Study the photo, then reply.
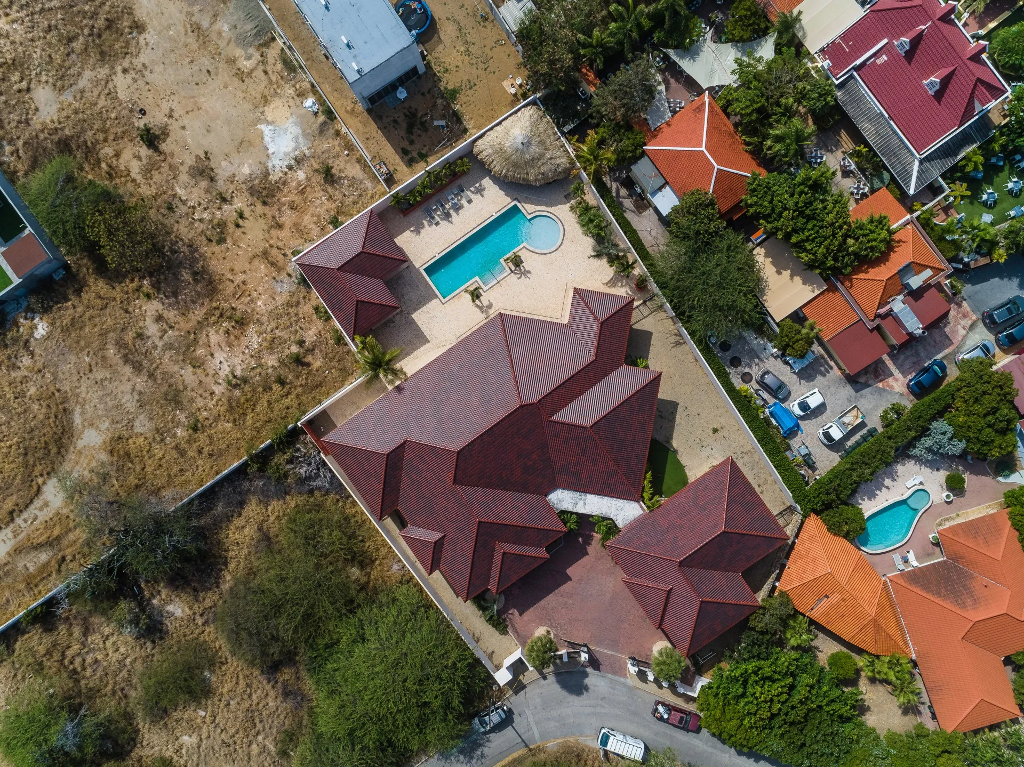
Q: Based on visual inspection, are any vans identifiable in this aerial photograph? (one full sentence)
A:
Yes, there's a van here.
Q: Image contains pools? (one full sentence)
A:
Yes, a pool is visible in the scene.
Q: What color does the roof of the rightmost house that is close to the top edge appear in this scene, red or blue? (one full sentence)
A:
The roof of the rightmost house that is close to the top edge is red.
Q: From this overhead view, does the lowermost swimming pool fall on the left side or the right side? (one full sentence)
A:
It is on the right.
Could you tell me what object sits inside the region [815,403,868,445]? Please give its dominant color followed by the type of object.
white truck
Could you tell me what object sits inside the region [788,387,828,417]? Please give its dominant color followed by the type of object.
white car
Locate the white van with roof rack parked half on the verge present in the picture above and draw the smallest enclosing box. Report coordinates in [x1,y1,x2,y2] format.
[596,728,648,766]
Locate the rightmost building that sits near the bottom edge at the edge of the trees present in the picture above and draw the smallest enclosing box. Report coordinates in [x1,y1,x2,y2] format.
[888,503,1024,736]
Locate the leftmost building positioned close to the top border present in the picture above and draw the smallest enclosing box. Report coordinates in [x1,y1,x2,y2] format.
[291,0,422,109]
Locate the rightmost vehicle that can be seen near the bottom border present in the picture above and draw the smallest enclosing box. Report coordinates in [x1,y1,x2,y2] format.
[647,696,702,732]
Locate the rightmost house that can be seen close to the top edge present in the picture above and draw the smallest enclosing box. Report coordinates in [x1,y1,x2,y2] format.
[799,0,1012,193]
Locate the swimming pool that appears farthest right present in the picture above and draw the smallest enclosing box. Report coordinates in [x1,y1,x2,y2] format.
[854,486,934,554]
